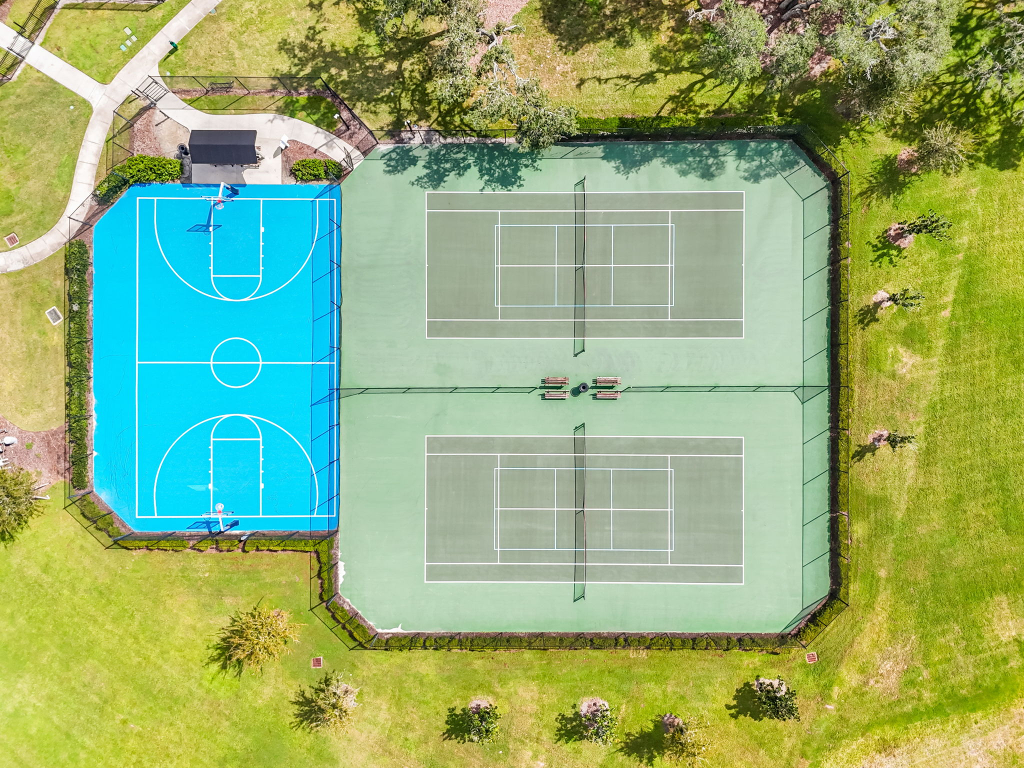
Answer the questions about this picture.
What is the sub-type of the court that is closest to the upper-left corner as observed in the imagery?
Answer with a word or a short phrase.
basketball court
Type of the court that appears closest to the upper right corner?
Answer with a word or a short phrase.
tennis court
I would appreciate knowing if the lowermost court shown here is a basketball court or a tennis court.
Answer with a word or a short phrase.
tennis court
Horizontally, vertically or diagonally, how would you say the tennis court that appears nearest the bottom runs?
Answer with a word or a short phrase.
horizontally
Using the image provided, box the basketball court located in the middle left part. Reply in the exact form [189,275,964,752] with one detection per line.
[93,184,341,531]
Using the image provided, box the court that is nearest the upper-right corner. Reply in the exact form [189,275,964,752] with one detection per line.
[427,192,744,338]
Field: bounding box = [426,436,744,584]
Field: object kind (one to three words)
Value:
tennis court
